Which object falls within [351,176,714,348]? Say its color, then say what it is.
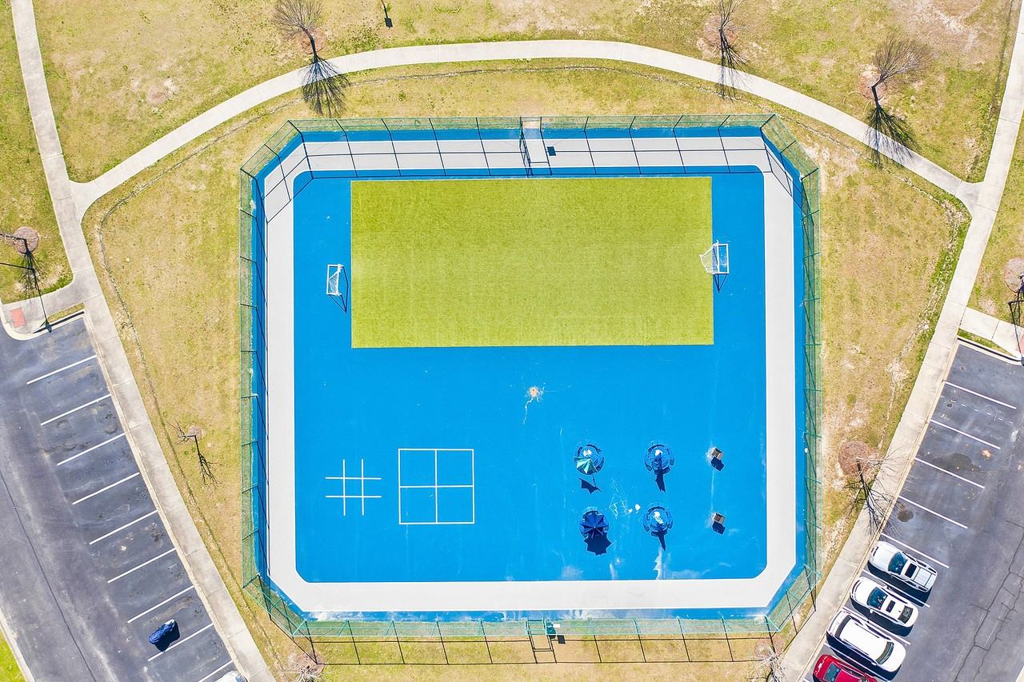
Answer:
yellow soccer field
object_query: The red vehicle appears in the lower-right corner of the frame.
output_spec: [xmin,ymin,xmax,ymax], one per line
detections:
[810,654,870,682]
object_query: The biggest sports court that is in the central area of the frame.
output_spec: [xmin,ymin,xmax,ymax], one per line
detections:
[256,128,805,621]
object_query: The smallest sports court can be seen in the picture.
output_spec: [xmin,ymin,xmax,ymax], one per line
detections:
[398,448,475,524]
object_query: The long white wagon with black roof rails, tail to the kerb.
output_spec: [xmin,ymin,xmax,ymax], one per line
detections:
[825,608,903,668]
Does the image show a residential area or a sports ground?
sports ground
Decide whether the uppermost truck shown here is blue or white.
white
